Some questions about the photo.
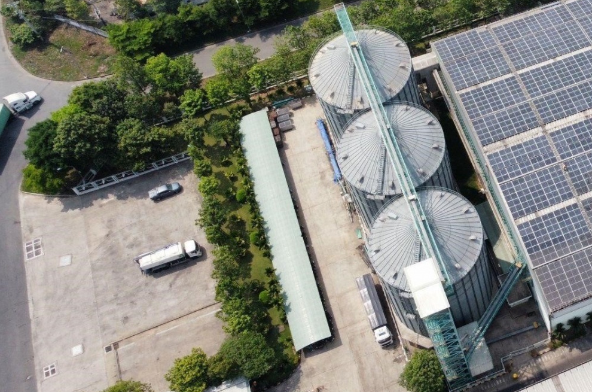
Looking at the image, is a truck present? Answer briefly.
Yes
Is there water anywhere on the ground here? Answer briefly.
No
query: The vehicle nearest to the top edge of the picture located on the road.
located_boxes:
[4,90,46,121]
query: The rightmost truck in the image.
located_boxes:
[354,273,388,340]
